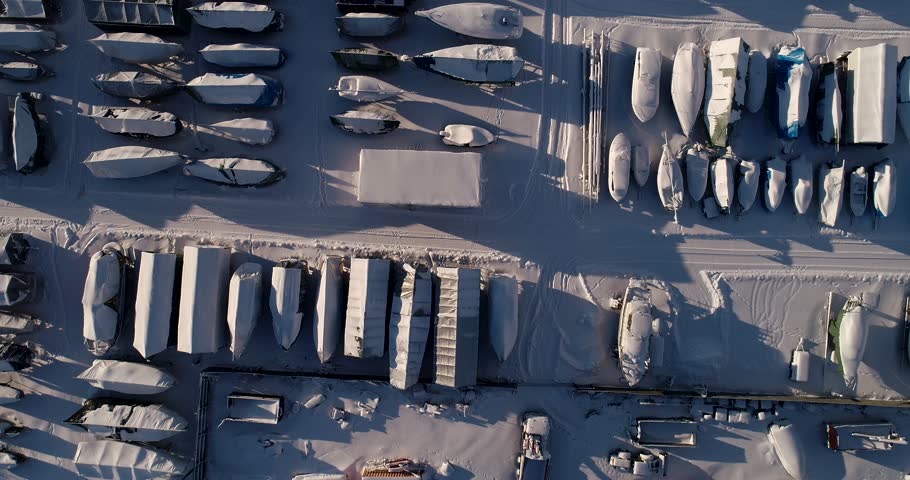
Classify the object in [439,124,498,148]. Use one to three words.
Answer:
boat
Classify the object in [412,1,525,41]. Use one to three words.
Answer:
boat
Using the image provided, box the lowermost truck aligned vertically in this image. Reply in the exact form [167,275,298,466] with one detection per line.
[516,415,552,480]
